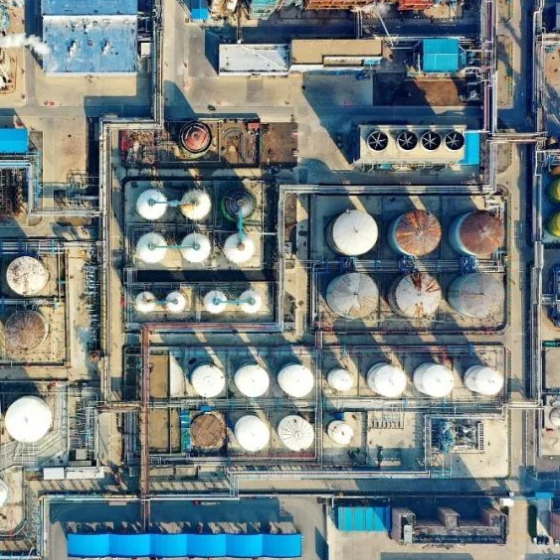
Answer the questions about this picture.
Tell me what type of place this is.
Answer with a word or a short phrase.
industrial area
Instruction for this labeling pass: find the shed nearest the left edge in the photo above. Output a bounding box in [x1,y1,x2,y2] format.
[0,129,29,154]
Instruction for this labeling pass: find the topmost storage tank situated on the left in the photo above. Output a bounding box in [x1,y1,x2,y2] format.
[178,120,213,156]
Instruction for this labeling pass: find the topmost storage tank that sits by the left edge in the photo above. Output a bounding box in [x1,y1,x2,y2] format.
[6,256,50,298]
